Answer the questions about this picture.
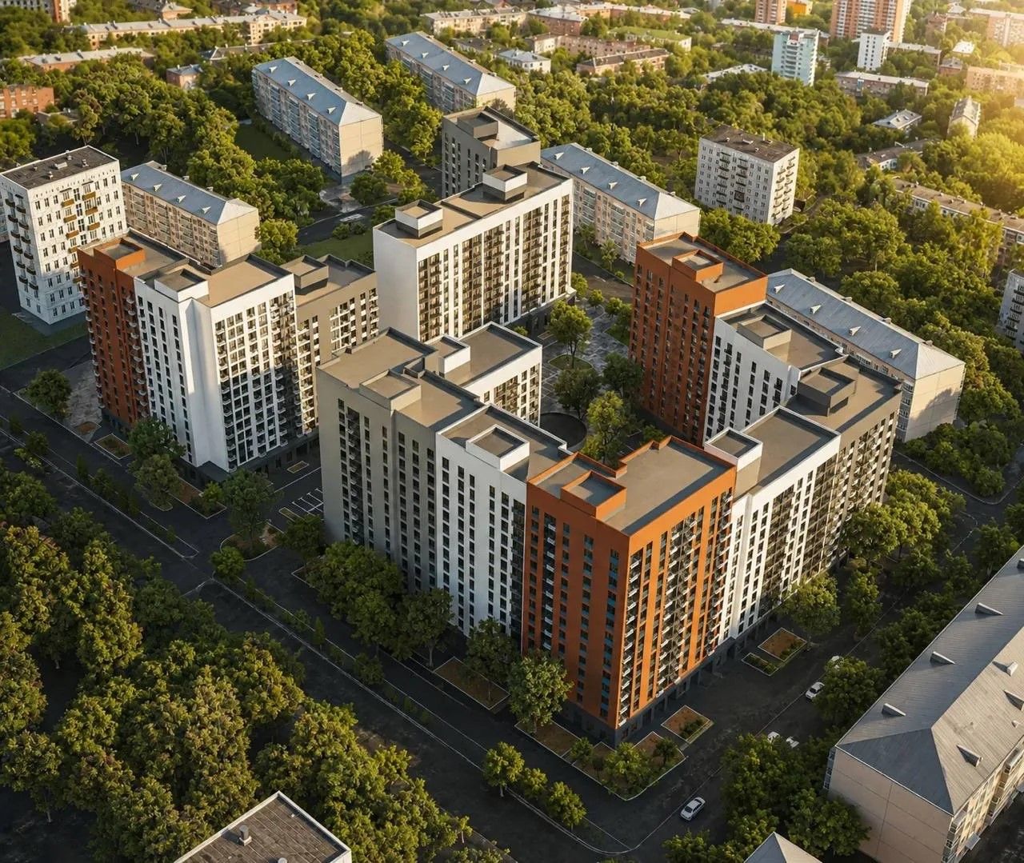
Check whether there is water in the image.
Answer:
No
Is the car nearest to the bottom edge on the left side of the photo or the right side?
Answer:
right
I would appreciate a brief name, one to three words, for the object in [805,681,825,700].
car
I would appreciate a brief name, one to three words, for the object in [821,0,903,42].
building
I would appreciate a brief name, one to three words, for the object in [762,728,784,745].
car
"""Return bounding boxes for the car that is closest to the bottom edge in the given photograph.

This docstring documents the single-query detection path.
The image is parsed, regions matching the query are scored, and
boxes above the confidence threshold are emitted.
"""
[681,797,703,817]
